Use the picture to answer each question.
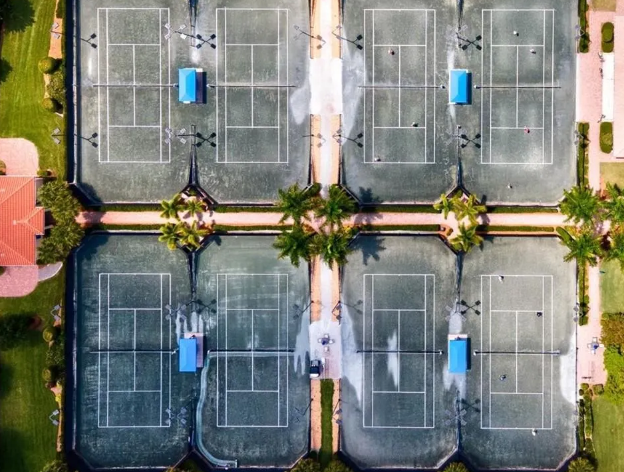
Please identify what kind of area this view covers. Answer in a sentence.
This looks like a sports ground.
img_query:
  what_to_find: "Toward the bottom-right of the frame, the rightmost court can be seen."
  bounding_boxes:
[460,237,577,466]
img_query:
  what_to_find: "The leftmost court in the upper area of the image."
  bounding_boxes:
[76,0,192,203]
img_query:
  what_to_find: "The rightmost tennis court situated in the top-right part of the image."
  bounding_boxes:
[460,0,577,204]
